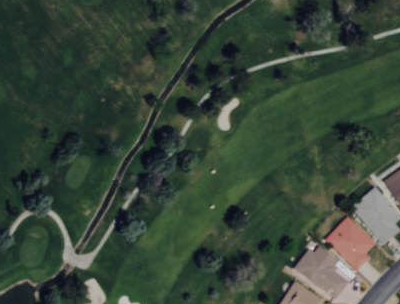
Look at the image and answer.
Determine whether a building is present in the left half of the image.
No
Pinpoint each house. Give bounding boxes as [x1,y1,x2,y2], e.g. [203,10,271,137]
[294,249,346,303]
[325,216,375,270]
[382,169,400,209]
[354,188,400,244]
